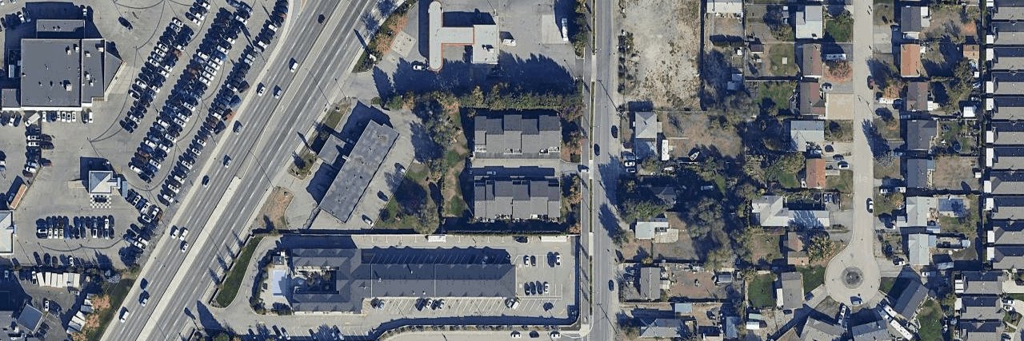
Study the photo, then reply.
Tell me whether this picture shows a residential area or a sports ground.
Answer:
residential area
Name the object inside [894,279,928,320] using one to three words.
house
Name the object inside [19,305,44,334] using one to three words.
building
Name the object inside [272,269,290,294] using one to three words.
swimming pool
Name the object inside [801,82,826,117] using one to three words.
house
